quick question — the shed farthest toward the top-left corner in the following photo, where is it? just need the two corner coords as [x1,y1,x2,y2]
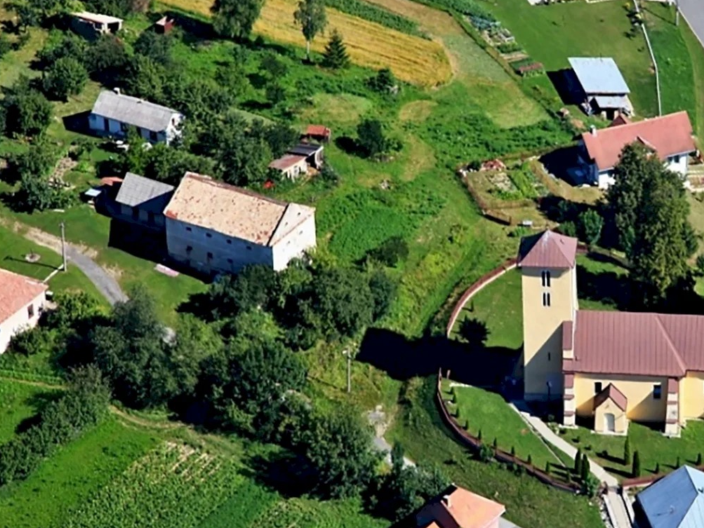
[70,8,112,37]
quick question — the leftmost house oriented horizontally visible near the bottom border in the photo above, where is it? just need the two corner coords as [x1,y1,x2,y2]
[408,487,505,528]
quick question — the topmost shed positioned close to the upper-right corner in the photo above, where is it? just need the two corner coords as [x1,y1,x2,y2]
[573,52,629,120]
